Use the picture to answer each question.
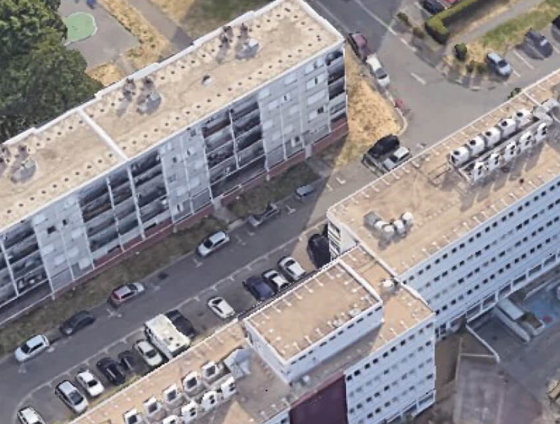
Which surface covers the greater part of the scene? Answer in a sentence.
For the most part, this view shows buildings.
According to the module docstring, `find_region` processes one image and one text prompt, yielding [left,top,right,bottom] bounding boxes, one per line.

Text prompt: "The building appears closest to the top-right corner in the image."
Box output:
[328,68,560,346]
